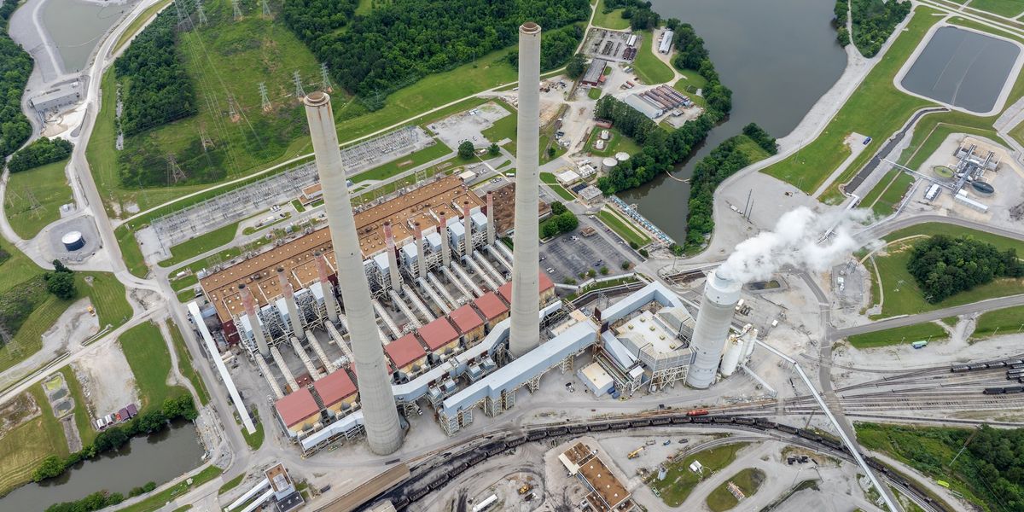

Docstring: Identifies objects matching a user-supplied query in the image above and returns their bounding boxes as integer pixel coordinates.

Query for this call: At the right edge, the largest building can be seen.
[949,145,998,196]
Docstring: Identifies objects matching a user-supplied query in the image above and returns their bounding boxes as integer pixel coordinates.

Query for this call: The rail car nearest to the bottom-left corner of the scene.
[393,492,414,507]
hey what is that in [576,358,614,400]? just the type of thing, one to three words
building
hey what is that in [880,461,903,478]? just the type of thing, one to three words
rail car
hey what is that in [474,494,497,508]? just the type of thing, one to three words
vehicle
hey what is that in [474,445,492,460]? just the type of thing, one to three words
rail car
